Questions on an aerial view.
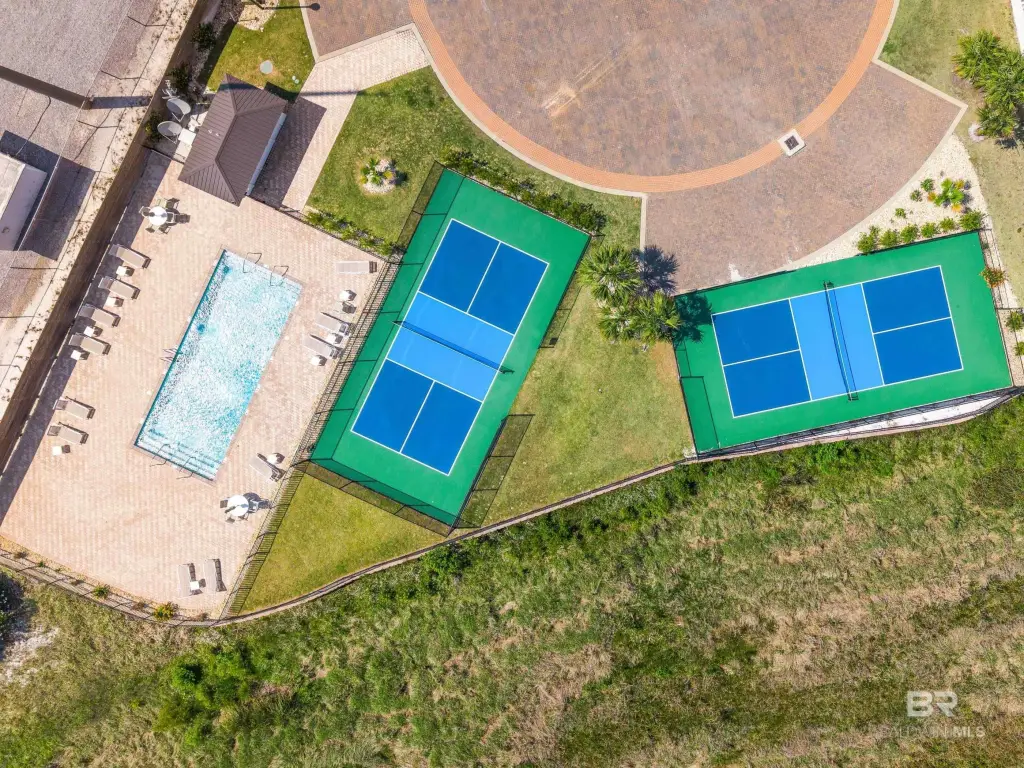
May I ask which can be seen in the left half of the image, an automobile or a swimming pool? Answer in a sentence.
The feature located in the left half of the image is a swimming pool.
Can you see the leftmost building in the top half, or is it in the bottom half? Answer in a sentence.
The leftmost building is in the top half of the image.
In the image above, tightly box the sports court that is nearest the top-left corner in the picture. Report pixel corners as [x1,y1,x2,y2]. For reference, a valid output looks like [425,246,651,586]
[311,168,591,528]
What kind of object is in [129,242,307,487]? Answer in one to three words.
swimming pool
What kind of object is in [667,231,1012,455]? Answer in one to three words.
sports court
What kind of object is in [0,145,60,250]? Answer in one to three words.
building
